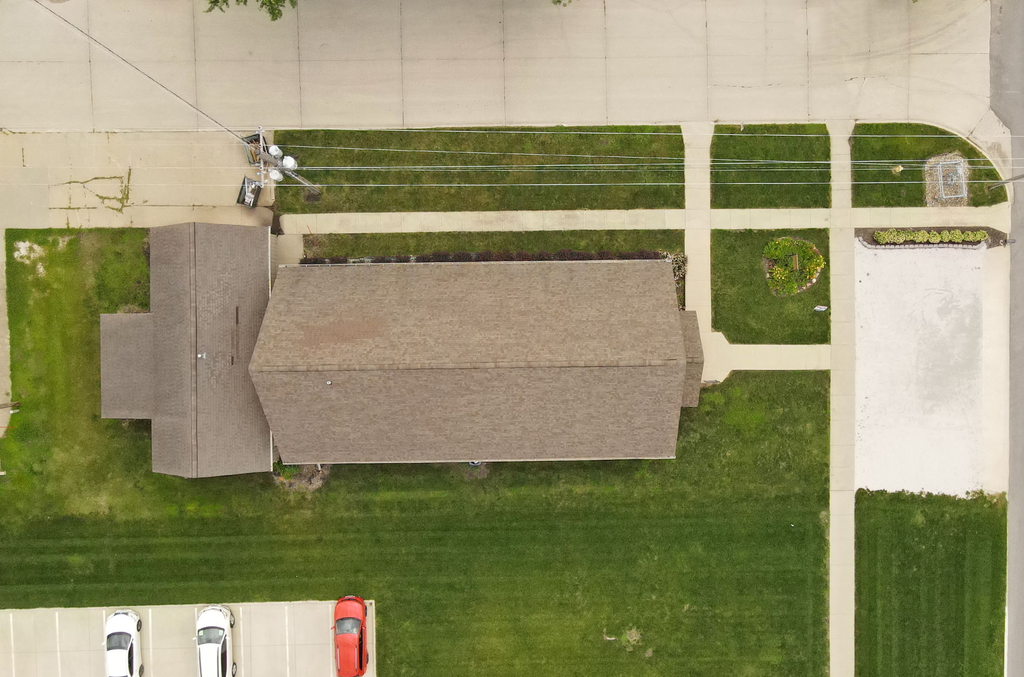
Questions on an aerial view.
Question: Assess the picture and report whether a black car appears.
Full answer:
No, I find no black car anywhere in the image.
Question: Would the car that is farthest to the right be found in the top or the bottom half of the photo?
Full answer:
It is in the bottom half that the car that is farthest to the right appears.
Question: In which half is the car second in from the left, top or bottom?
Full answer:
The car second in from the left is in the bottom half of the image.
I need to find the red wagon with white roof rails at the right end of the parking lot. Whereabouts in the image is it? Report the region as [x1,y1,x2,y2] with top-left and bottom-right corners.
[328,596,368,677]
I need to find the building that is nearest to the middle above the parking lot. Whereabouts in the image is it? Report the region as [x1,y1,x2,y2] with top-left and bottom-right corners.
[248,258,703,471]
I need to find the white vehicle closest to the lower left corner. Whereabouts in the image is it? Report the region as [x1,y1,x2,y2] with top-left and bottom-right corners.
[98,609,144,677]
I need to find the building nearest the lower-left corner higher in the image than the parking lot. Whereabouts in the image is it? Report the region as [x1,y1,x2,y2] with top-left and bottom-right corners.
[101,221,284,478]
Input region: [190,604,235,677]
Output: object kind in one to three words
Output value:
car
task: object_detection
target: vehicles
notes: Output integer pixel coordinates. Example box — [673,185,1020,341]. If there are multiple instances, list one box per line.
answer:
[98,609,144,677]
[190,604,235,677]
[328,596,368,677]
